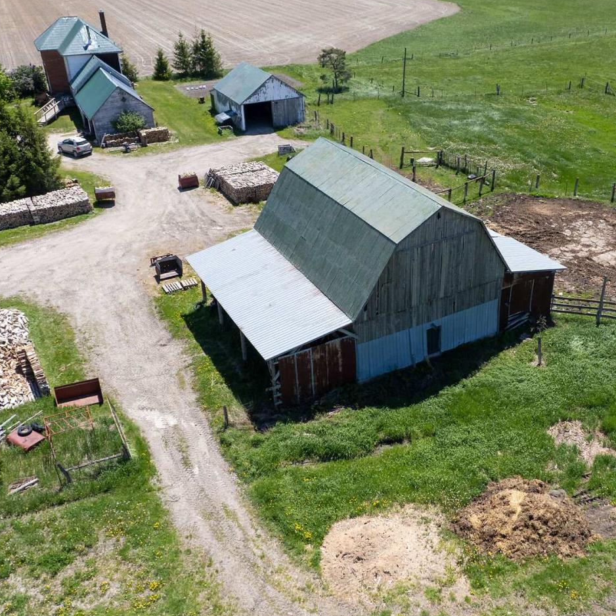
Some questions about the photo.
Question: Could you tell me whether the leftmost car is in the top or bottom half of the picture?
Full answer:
The leftmost car sits in the top half of the picture.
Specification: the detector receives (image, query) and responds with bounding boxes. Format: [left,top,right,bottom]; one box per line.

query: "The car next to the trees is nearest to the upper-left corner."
[59,134,91,155]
